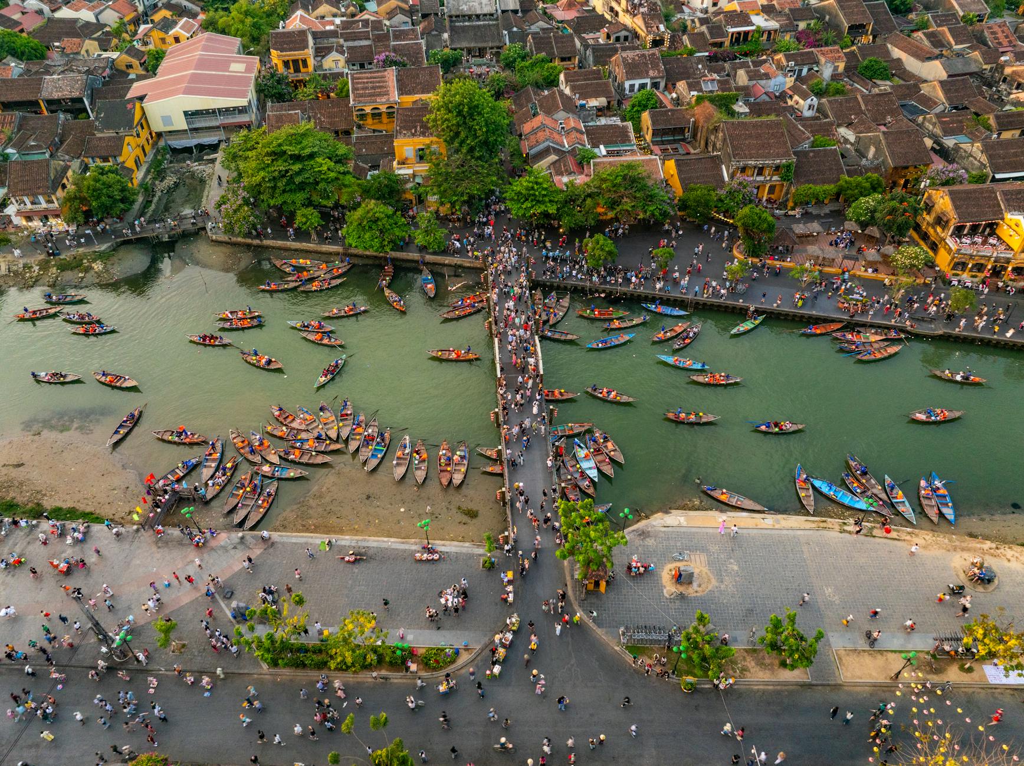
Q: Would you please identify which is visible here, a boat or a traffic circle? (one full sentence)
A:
This aerial view contains a boat.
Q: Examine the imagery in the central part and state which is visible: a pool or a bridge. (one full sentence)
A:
Visible in the central part is a bridge.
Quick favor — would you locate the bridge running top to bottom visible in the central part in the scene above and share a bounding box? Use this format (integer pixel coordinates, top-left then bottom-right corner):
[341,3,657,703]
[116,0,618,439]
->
[487,256,565,554]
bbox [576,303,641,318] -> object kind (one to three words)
boat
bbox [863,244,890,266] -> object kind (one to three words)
umbrella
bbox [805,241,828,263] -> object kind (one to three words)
umbrella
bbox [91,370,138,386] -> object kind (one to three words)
boat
